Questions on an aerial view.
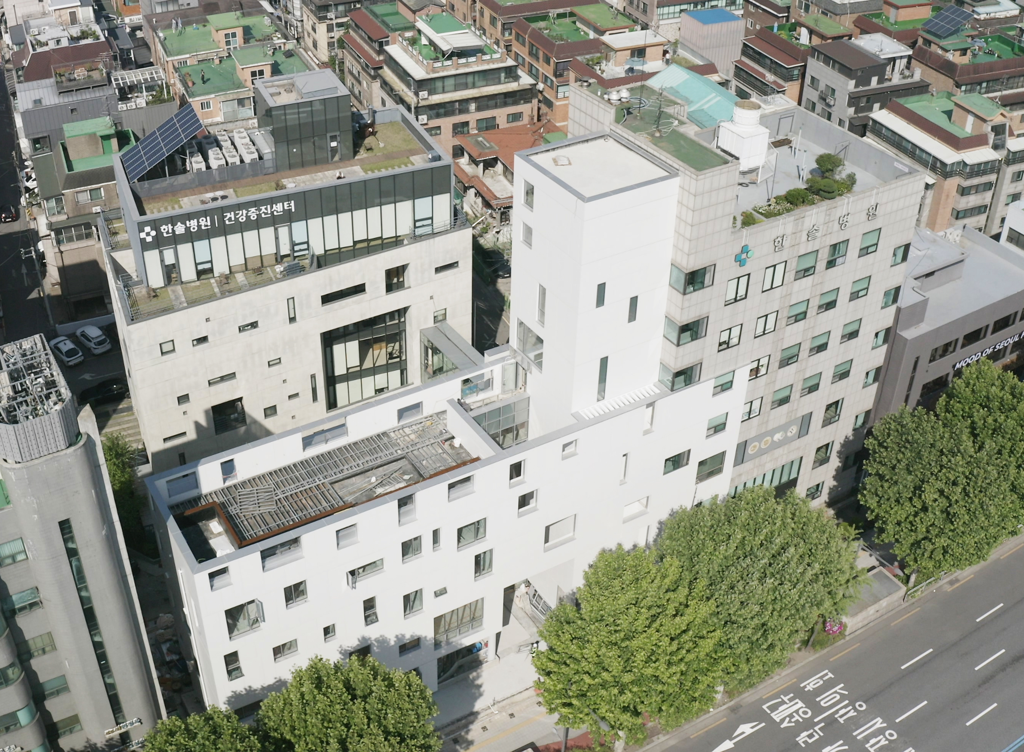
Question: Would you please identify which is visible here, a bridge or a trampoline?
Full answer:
Looking from above, you can make out a bridge.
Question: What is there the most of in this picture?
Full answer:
The scene is dominated by buildings.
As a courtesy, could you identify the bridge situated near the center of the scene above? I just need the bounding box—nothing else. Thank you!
[420,322,485,397]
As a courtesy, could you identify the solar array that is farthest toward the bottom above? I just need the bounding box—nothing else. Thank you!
[122,103,204,191]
